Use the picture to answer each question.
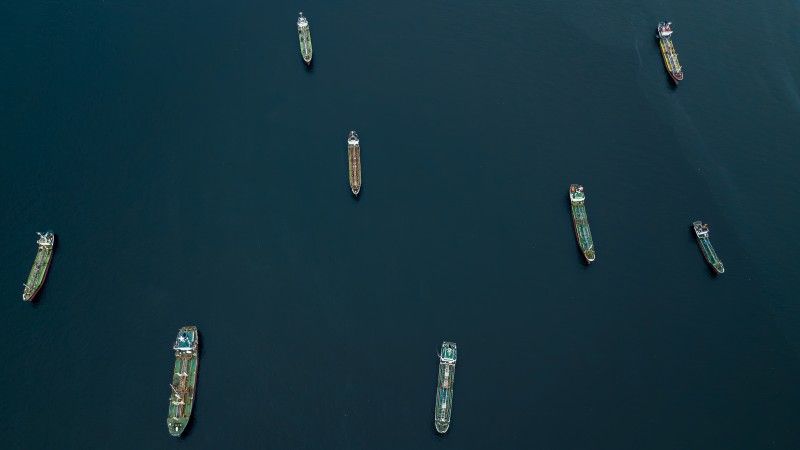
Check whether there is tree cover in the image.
No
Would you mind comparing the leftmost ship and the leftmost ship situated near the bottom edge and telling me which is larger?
the leftmost ship situated near the bottom edge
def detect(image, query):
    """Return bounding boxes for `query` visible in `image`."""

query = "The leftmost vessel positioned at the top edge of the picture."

[297,13,312,66]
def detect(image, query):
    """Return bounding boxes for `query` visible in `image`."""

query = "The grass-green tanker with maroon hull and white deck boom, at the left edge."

[22,230,56,302]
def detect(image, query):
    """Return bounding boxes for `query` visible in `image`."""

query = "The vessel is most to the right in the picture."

[692,222,723,275]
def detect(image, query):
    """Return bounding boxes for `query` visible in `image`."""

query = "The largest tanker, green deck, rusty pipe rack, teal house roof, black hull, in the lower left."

[168,326,198,439]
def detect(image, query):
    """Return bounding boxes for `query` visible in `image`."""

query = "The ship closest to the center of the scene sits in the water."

[348,129,361,198]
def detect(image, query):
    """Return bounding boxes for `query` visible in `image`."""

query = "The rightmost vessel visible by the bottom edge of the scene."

[435,341,456,434]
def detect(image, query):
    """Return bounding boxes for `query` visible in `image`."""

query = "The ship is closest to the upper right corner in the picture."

[658,24,684,83]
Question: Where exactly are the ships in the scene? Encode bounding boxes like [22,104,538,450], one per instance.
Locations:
[168,326,198,439]
[692,222,723,275]
[22,230,56,302]
[570,184,595,266]
[297,13,312,66]
[658,24,684,83]
[348,129,361,198]
[435,341,456,434]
